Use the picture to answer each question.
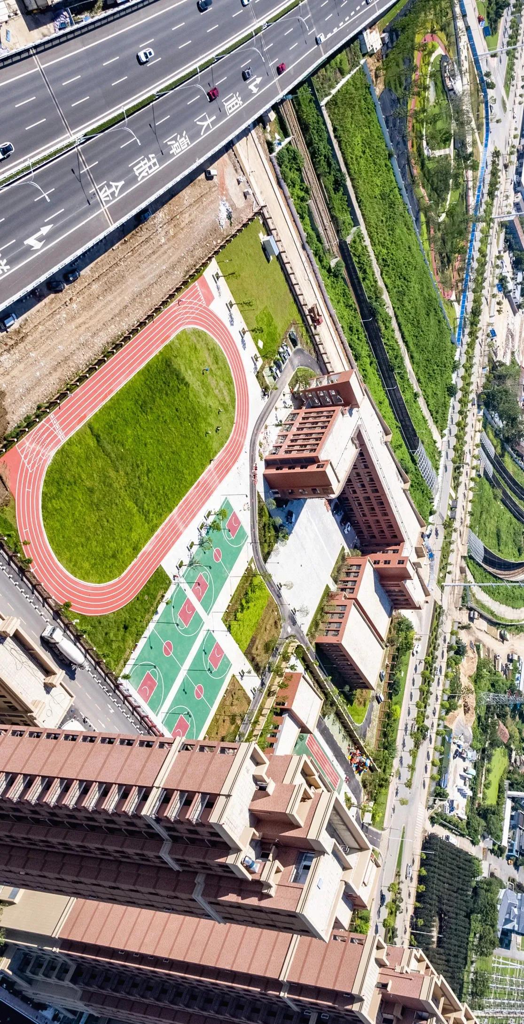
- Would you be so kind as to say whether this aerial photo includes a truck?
Yes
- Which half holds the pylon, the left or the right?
right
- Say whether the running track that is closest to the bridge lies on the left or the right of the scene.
left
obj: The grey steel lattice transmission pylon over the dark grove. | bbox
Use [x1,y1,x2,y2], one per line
[477,688,524,710]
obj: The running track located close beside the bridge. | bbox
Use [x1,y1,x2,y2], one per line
[1,277,249,617]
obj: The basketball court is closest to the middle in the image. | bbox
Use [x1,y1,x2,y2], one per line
[183,497,248,614]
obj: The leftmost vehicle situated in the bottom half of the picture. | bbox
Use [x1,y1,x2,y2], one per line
[46,631,92,672]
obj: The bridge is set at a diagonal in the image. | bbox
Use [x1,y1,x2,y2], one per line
[0,0,405,314]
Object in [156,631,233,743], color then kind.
green basketball court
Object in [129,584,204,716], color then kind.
green basketball court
